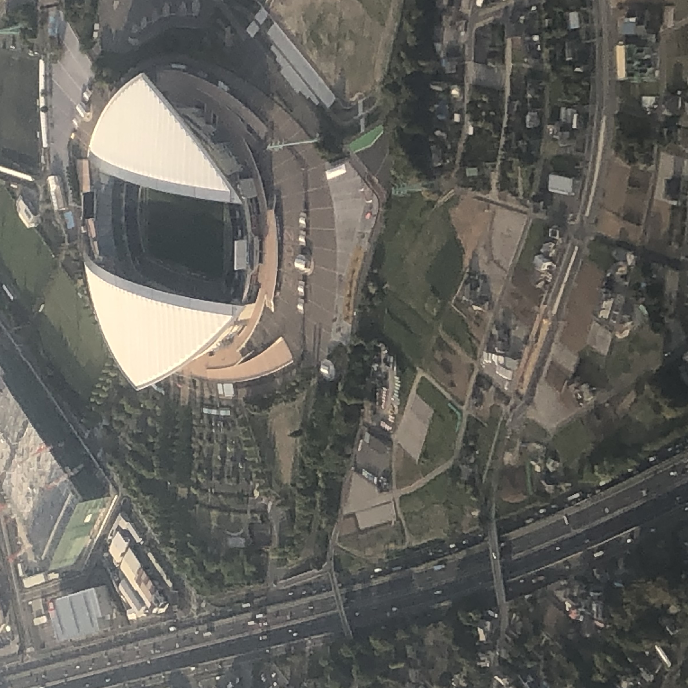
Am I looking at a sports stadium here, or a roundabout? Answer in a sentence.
The one in the frame is a sports stadium.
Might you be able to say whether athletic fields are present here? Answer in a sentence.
Yes, the frame does contain an athletic field.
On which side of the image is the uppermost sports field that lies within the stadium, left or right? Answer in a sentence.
The uppermost sports field that lies within the stadium is on the left side of the image.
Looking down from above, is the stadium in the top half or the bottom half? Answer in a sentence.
The top half of the photo is where the stadium is.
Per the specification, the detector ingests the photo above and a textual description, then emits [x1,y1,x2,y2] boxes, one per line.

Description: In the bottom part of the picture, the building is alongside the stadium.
[0,377,133,585]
